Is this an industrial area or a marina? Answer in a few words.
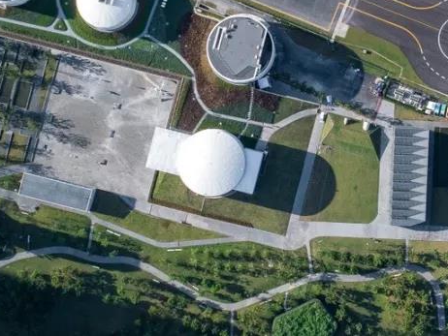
industrial area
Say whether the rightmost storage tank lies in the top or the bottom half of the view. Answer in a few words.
top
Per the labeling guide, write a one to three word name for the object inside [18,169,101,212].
building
